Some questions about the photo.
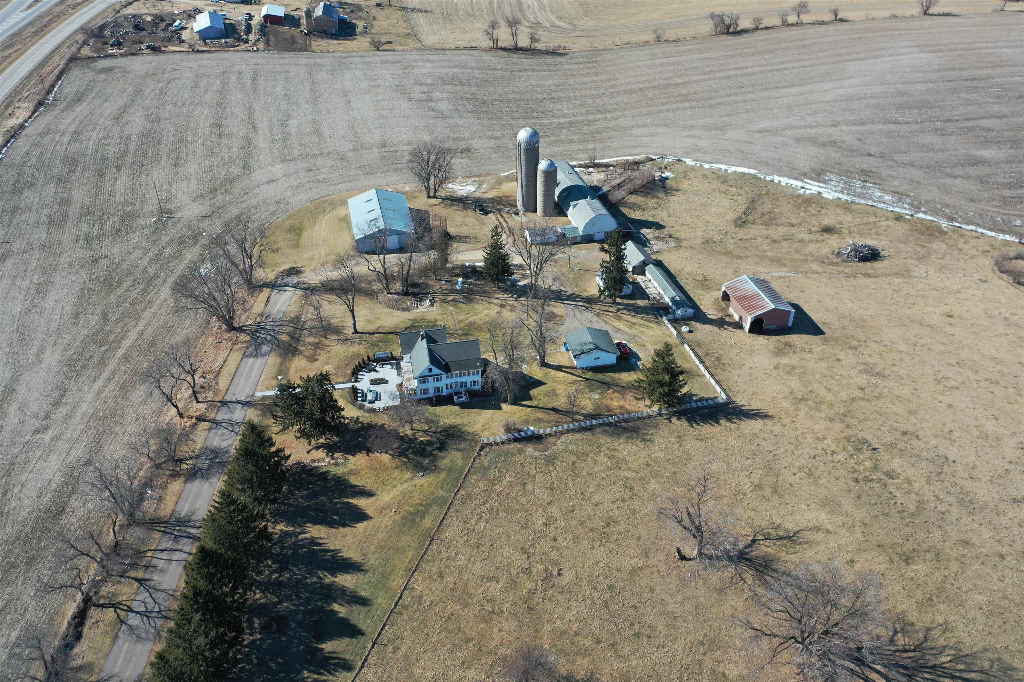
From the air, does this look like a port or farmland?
farmland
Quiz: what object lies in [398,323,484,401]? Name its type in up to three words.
house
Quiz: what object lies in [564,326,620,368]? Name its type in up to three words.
building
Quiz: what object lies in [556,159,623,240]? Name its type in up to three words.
barn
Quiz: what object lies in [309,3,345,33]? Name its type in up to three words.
barn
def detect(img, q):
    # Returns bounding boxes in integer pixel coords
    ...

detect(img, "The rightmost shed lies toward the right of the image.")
[720,274,796,331]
